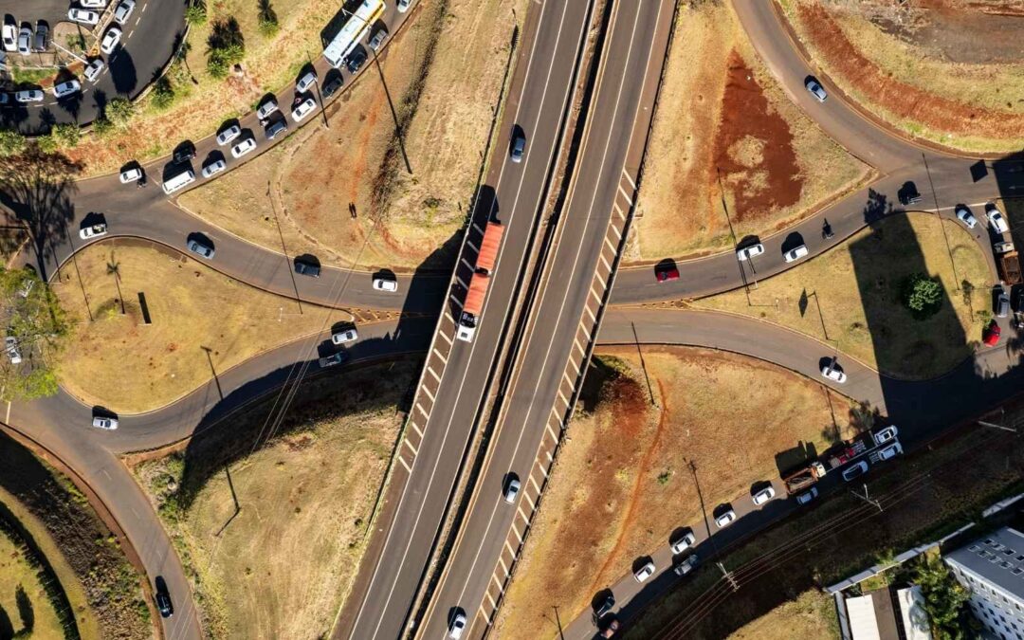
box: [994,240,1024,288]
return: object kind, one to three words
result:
truck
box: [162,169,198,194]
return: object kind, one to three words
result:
vehicle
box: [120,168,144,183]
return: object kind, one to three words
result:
car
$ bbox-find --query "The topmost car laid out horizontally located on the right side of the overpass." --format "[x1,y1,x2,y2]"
[893,191,921,206]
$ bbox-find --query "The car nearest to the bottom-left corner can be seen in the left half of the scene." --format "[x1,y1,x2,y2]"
[157,593,173,617]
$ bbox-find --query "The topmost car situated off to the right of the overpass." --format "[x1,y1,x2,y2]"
[805,79,827,101]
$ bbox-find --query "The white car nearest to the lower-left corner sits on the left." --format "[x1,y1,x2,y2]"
[92,416,120,429]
